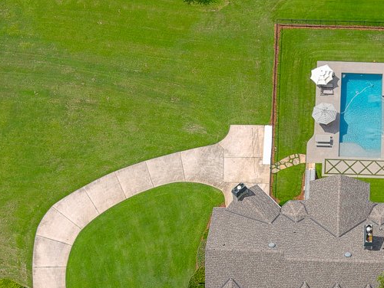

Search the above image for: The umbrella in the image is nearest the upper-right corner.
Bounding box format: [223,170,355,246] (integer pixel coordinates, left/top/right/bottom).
[311,68,332,88]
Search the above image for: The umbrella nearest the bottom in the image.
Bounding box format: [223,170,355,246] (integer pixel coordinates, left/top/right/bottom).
[312,104,336,126]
